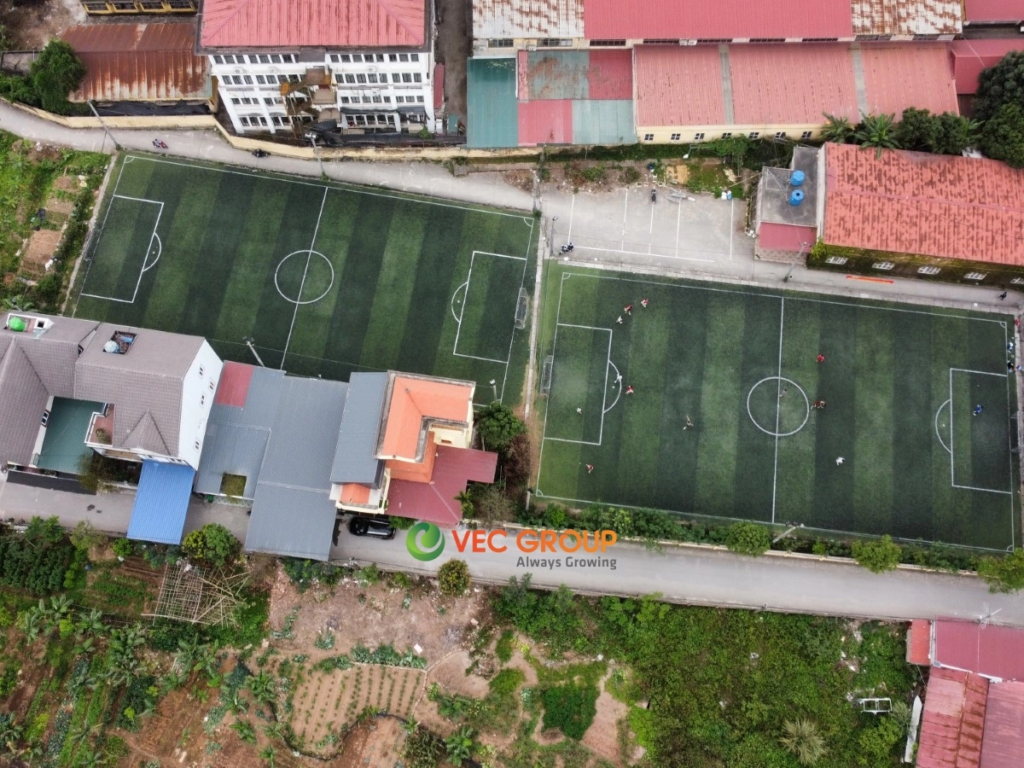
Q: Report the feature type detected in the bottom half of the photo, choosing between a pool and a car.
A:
car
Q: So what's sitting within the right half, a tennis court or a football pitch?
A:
football pitch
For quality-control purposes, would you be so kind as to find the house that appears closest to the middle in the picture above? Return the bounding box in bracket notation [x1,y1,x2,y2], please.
[330,370,497,527]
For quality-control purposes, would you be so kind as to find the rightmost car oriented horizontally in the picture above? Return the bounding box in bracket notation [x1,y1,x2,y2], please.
[348,515,397,540]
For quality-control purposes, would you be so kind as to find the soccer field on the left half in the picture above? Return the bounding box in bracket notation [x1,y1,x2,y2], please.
[70,153,540,417]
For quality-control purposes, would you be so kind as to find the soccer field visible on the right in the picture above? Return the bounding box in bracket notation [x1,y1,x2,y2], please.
[527,263,1021,555]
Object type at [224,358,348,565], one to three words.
building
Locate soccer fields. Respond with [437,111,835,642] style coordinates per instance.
[70,153,540,417]
[527,263,1021,555]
